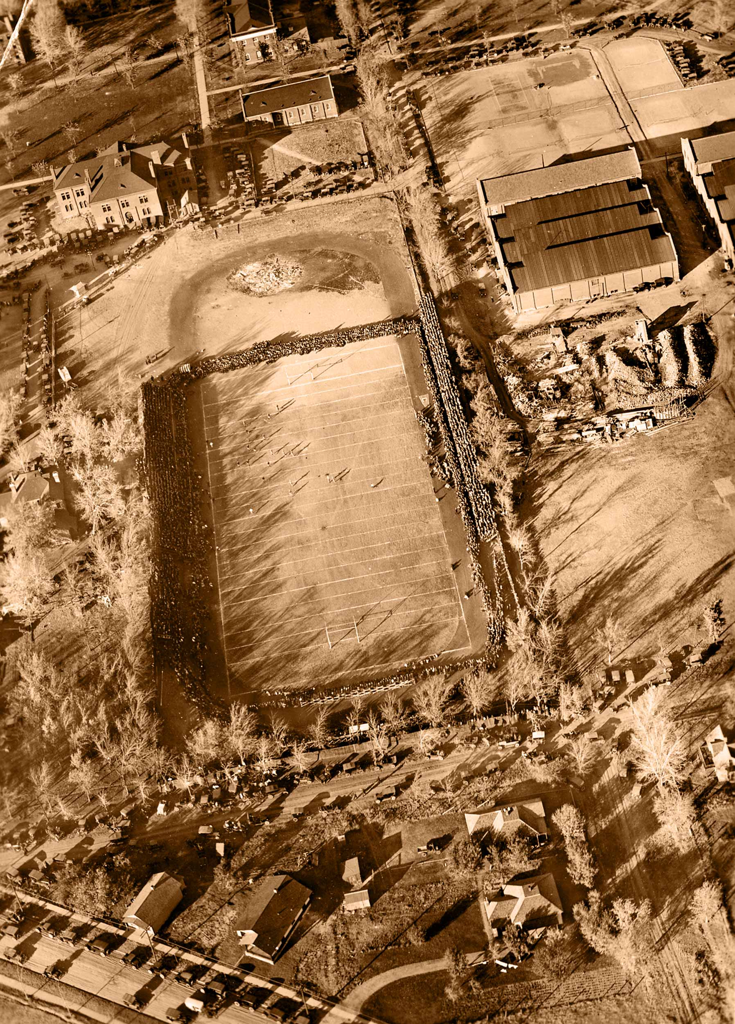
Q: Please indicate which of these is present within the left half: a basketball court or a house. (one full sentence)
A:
What appears within the left half is a house.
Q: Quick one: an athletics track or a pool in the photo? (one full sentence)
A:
The one in the frame is an athletics track.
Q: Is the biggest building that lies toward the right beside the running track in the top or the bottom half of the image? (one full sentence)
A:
The biggest building that lies toward the right beside the running track sits in the top half of the picture.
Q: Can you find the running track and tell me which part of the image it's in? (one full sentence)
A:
The running track is in the center part of the image.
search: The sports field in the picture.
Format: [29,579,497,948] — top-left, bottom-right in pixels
[200,343,472,697]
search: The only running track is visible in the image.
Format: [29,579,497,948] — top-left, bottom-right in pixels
[168,235,504,716]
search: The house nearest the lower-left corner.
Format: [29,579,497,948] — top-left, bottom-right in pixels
[117,873,184,948]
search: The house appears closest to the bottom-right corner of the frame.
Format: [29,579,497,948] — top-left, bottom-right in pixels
[486,872,567,941]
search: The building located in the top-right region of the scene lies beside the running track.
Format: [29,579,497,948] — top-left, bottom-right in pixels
[478,147,680,314]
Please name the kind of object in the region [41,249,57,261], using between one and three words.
vehicle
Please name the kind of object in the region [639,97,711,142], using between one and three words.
tennis court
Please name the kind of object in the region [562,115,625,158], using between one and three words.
tennis court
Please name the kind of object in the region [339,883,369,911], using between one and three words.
shed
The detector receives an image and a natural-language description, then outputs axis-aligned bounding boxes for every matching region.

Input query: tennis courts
[502,127,564,171]
[483,70,537,117]
[562,115,625,158]
[610,42,678,89]
[639,97,711,142]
